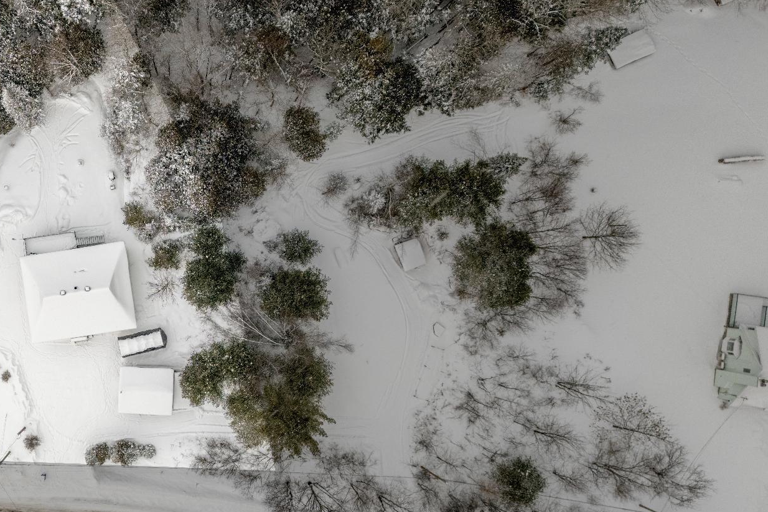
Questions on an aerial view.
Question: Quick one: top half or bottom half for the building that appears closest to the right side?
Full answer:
Seen from above, the building that appears closest to the right side lies in the bottom half of the view.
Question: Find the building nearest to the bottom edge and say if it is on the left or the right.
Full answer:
It is on the left.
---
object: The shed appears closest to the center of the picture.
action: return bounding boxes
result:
[392,238,426,271]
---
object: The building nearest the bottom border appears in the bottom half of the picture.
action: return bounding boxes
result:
[118,366,190,415]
